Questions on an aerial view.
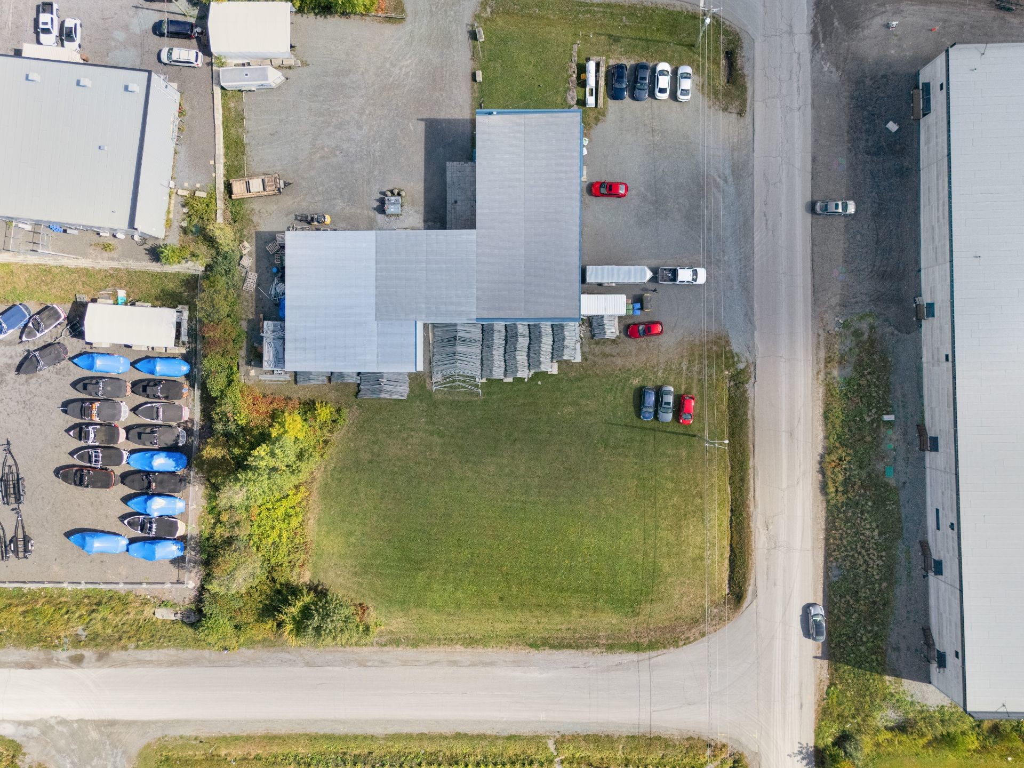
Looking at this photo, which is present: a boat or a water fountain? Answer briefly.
boat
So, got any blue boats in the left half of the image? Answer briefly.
Yes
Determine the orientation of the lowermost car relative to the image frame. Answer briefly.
from top to bottom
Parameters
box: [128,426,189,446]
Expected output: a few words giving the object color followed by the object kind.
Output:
gray boat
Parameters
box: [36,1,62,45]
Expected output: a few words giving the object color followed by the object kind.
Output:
white truck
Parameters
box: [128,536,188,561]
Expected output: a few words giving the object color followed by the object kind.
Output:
blue boat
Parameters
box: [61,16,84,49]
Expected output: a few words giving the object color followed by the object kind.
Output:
white car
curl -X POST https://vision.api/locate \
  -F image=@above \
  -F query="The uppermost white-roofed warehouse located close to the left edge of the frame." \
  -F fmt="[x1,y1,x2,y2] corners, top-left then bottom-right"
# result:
[0,56,180,241]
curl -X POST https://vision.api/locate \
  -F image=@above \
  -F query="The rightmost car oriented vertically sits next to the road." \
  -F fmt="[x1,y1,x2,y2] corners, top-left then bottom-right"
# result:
[805,601,825,643]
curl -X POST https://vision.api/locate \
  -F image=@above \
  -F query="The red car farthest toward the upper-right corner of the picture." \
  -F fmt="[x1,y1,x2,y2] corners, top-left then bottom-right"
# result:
[591,180,628,199]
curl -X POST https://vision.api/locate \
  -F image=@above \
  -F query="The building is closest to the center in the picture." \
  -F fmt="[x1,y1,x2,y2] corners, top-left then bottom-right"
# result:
[285,110,584,372]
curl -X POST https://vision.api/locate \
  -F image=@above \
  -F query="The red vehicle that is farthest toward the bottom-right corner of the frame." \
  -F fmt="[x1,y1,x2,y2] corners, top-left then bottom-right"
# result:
[678,392,696,425]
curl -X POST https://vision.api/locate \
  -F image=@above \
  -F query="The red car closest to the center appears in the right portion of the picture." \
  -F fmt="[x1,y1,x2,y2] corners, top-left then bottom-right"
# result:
[626,321,664,339]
